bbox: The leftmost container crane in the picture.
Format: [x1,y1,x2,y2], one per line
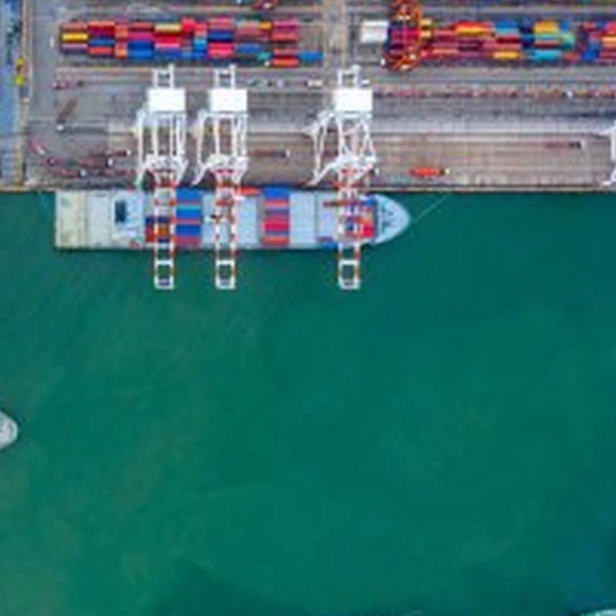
[130,59,190,288]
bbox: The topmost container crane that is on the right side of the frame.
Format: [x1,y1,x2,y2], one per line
[383,0,421,73]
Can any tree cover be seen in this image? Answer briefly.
No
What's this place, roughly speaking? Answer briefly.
port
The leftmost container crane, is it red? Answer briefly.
No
